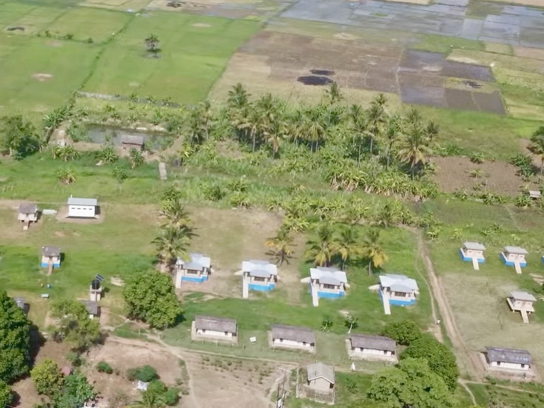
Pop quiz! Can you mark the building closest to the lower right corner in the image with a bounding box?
[480,347,536,380]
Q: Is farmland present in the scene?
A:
Yes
